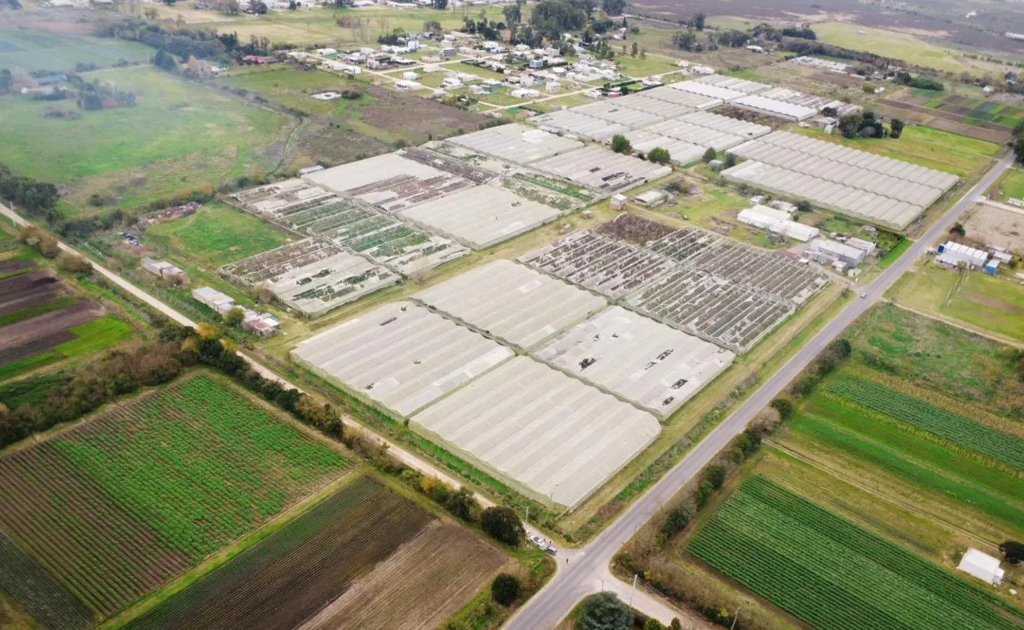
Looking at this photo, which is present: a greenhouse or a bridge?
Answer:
greenhouse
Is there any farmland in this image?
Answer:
Yes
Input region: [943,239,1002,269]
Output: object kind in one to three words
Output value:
building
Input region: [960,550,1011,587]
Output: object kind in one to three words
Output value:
shed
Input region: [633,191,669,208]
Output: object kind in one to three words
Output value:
greenhouse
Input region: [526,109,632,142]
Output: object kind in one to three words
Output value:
greenhouse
